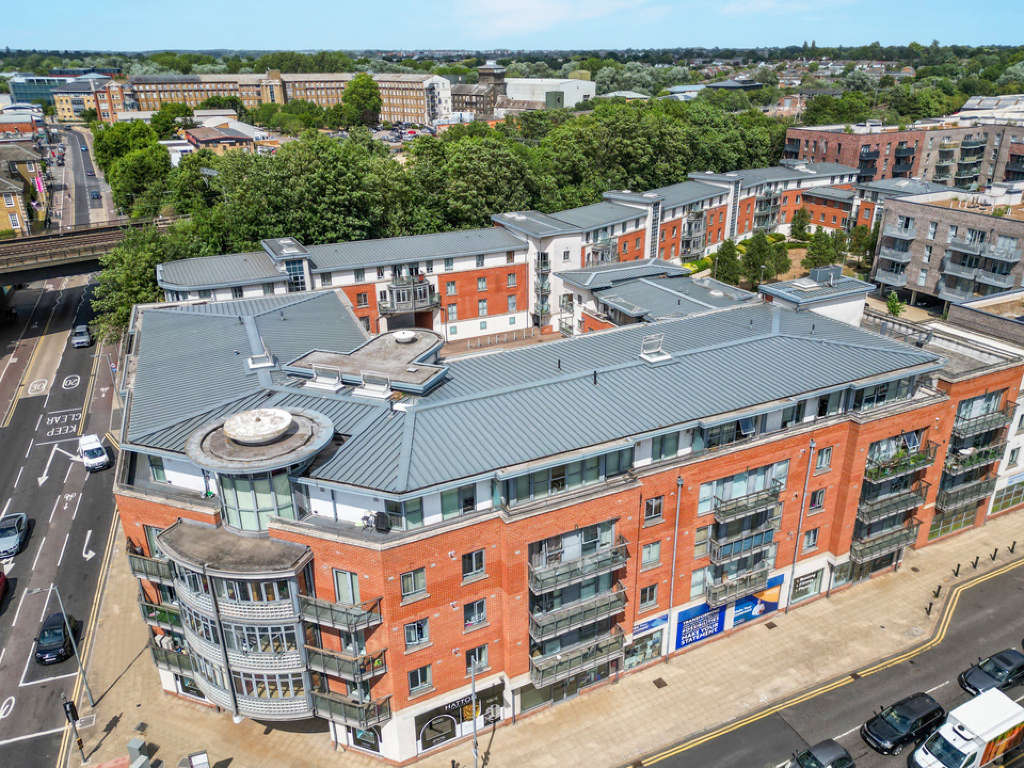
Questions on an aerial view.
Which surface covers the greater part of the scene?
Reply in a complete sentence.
The largest share of the image is taken up by buildings.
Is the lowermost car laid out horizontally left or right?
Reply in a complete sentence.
The lowermost car laid out horizontally is on the right side of the image.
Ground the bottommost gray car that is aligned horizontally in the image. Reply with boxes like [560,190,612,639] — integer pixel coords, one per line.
[787,732,868,768]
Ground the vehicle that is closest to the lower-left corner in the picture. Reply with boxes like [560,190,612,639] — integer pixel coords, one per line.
[36,607,80,663]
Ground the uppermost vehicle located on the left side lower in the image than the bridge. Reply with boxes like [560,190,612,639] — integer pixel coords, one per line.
[70,324,90,345]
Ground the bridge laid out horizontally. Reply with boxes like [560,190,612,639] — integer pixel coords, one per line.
[0,220,166,287]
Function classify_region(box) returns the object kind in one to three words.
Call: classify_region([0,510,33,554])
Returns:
car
